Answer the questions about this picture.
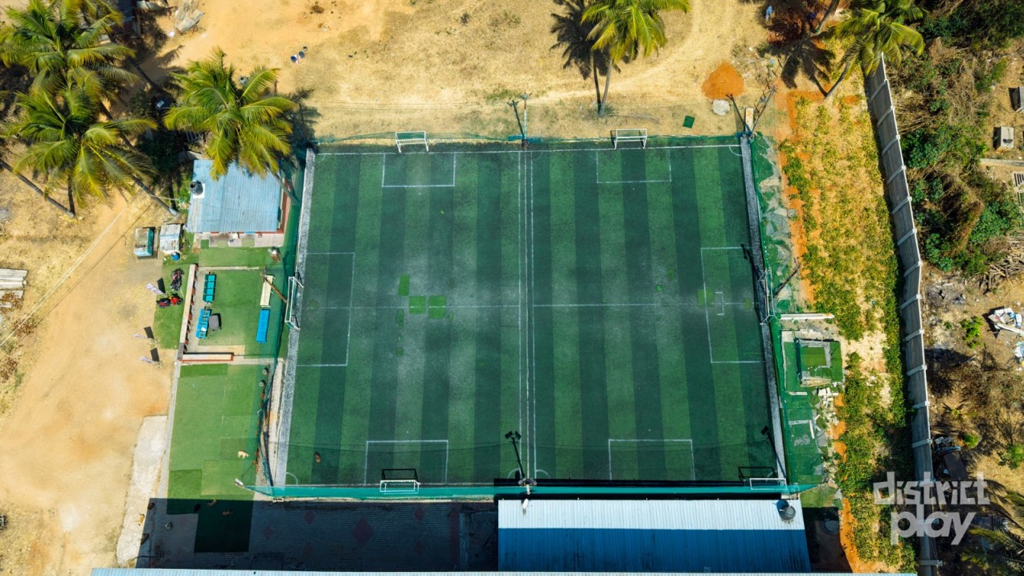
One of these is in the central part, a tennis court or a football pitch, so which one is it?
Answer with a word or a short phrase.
football pitch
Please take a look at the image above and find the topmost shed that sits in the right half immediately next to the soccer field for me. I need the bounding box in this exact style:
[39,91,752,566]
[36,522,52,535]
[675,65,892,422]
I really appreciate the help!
[498,498,806,572]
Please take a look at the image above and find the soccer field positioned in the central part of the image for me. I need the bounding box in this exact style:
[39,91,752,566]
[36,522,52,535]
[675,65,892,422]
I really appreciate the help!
[285,138,775,489]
